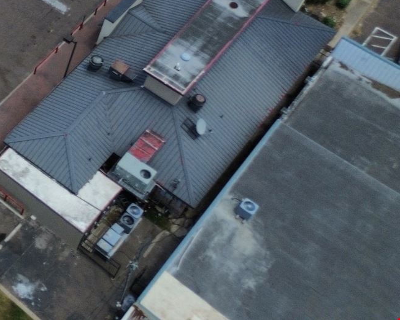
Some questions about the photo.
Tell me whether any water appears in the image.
No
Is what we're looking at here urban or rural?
urban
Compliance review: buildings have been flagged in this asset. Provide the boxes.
[0,0,328,250]
[122,34,400,320]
